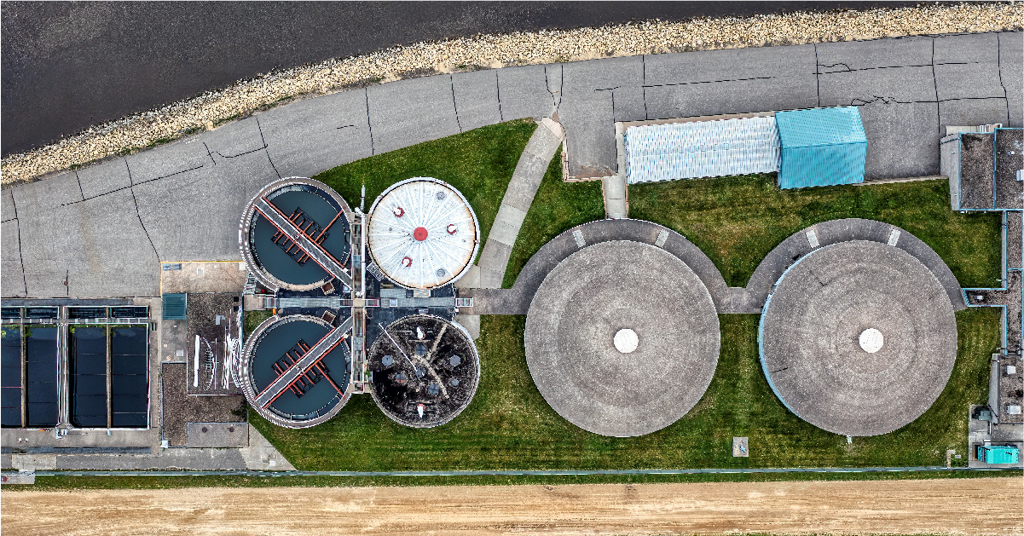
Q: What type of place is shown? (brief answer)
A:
industrial area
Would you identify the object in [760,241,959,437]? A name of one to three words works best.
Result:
storage tank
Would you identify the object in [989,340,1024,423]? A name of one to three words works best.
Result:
building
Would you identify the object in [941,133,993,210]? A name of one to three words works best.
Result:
building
